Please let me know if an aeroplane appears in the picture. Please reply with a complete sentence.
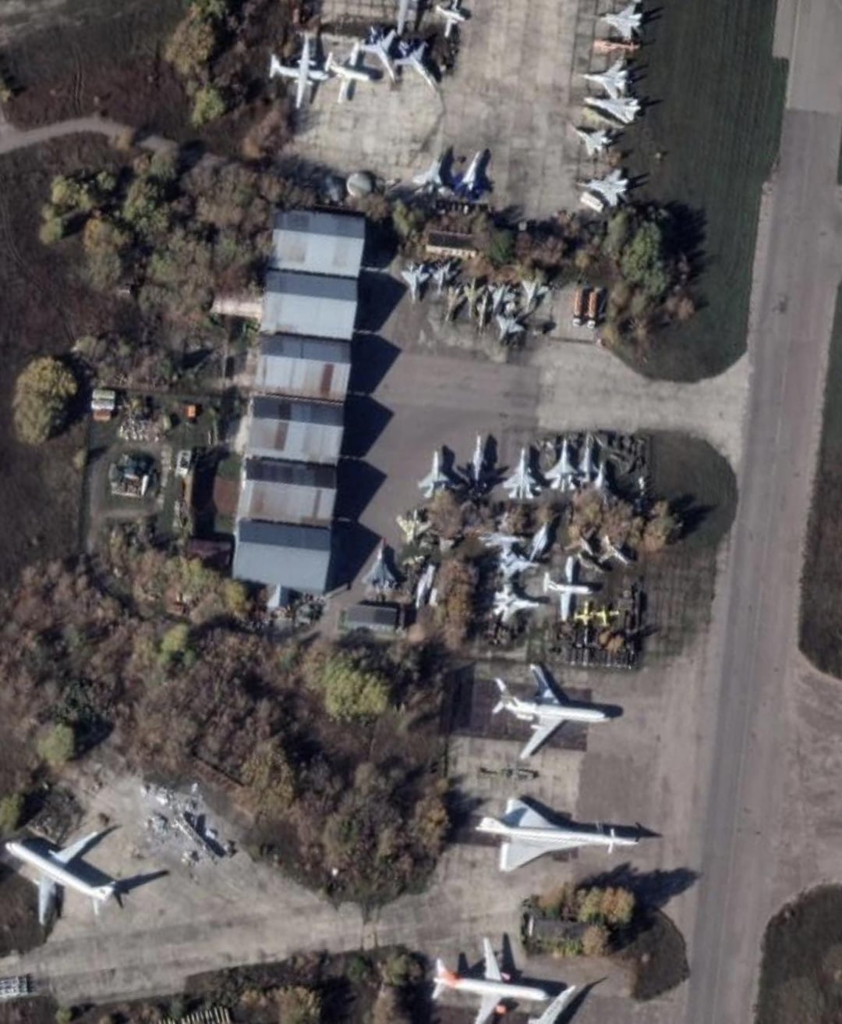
Yes, there's an aeroplane here.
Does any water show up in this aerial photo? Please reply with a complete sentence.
No, no water is visible.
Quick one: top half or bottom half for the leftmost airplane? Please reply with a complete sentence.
You can find the leftmost airplane in the bottom half.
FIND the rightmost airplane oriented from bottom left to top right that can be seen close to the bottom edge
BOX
[519,981,578,1024]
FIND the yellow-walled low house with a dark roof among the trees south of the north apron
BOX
[426,230,478,256]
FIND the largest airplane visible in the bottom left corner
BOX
[6,833,115,918]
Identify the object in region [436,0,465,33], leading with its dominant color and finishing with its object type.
white airplane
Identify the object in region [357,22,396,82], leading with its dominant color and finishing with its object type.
white airplane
